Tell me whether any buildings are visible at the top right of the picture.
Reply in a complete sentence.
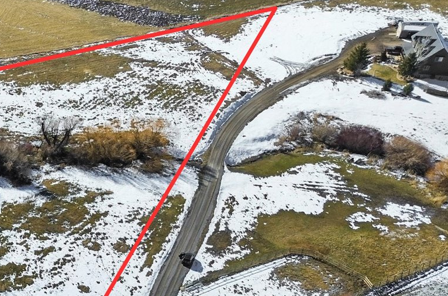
Yes, there is a building at the top right of the picture.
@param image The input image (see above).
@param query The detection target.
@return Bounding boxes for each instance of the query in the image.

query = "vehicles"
[180,256,199,269]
